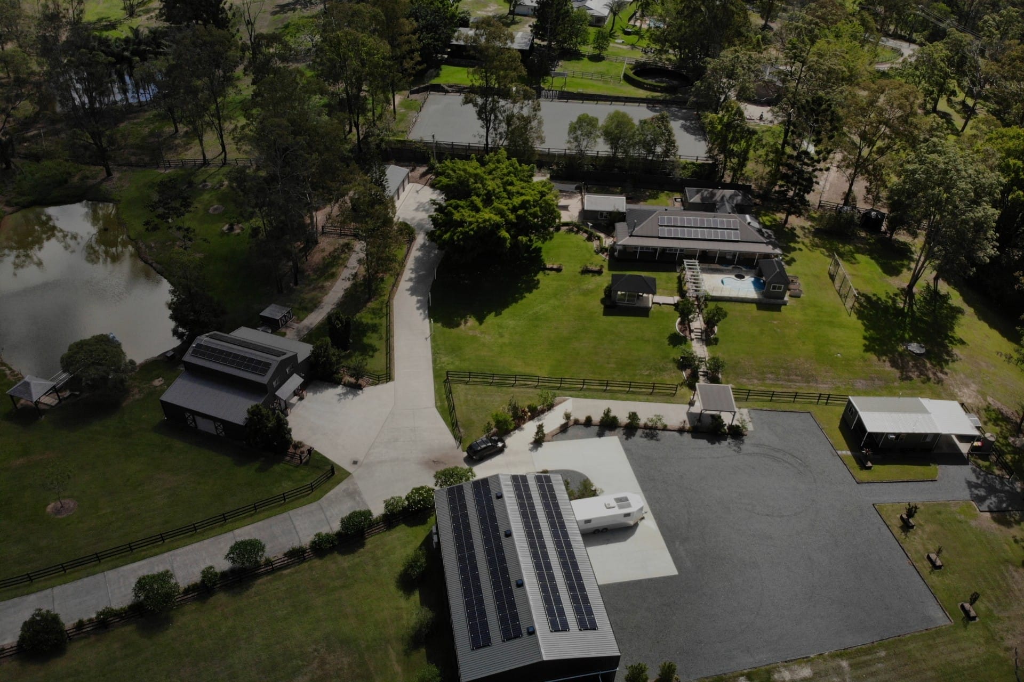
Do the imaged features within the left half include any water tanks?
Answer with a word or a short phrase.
No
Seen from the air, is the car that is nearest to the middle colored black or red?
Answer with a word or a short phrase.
black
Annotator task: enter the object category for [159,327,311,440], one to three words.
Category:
barn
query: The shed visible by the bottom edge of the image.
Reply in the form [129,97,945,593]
[431,472,619,682]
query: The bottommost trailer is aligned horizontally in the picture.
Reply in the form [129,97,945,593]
[569,489,651,527]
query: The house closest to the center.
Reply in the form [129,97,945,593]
[609,275,657,307]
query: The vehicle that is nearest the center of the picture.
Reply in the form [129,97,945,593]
[467,433,508,460]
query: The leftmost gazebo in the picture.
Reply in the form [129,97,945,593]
[5,377,61,417]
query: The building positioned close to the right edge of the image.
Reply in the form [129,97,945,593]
[843,391,979,448]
